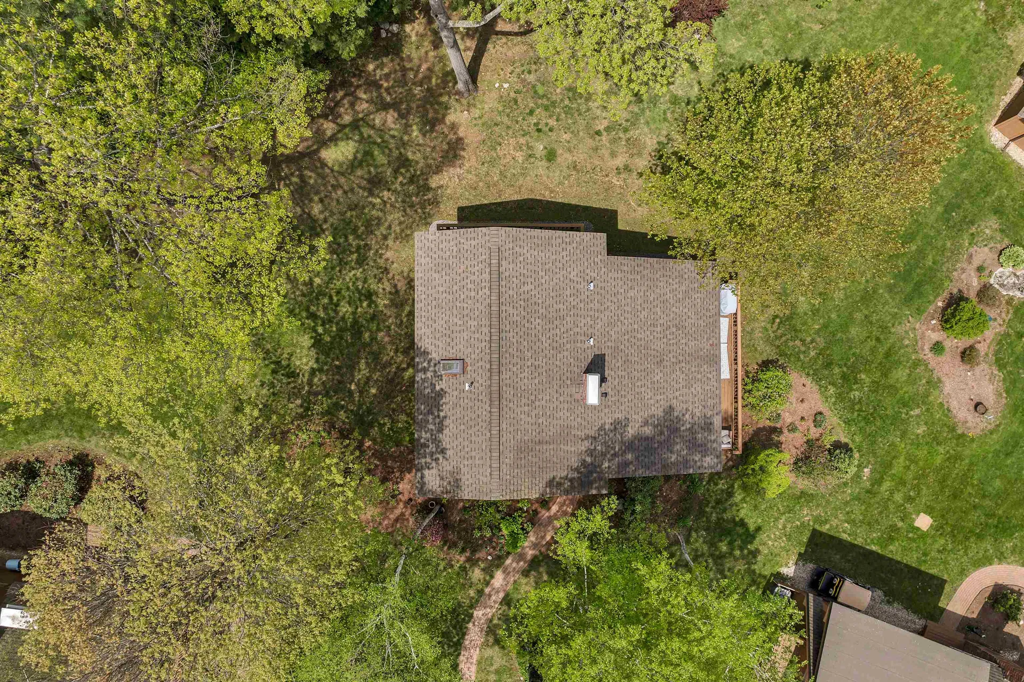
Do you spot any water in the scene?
No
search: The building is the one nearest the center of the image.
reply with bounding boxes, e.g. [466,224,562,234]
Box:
[415,227,721,500]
